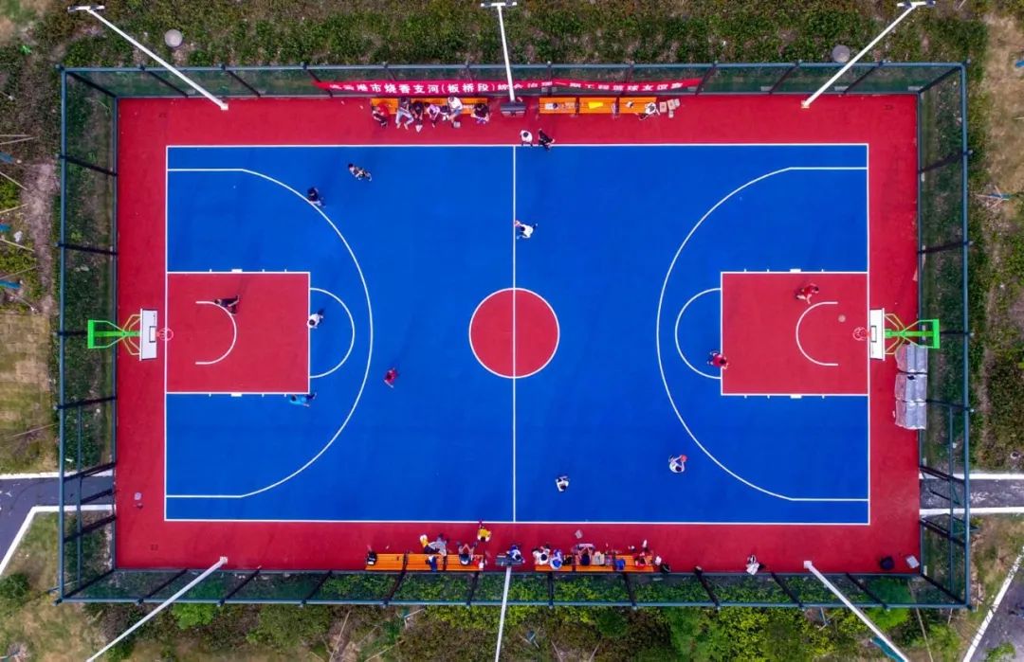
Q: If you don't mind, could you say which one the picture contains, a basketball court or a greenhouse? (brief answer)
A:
basketball court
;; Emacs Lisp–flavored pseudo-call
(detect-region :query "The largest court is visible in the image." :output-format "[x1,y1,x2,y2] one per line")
[114,93,921,575]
